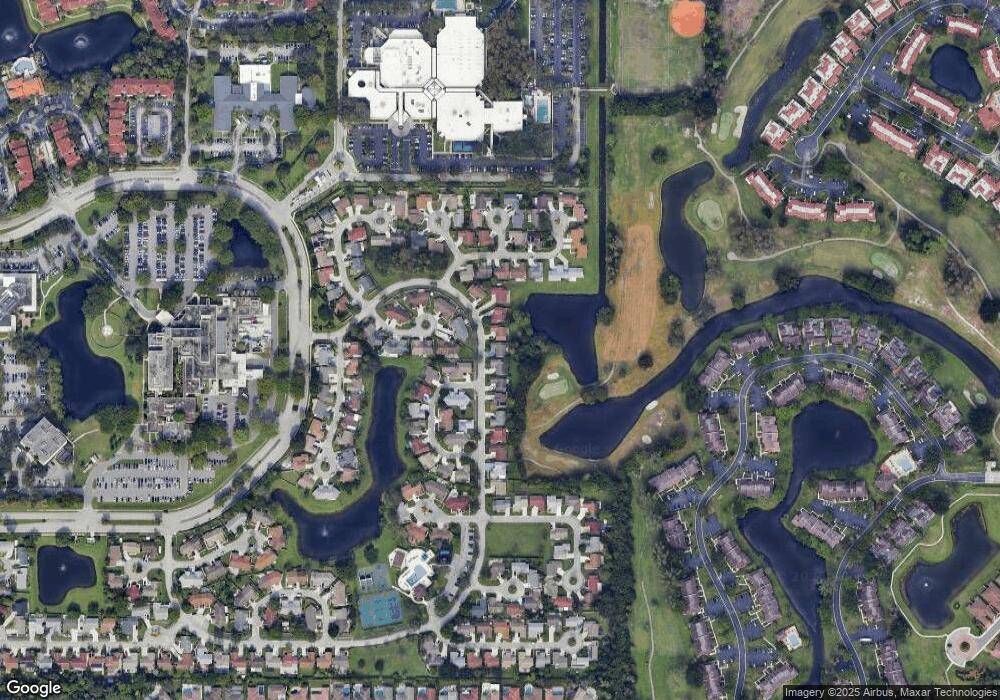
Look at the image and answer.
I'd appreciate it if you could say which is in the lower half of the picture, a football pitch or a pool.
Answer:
pool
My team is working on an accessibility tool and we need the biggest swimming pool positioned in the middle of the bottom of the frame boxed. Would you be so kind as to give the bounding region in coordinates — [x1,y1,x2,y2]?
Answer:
[389,548,438,590]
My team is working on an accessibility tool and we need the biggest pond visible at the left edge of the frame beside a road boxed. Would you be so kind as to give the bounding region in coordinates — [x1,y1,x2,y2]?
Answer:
[38,545,97,605]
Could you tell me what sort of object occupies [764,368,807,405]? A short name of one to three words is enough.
building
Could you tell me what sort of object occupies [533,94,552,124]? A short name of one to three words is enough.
swimming pool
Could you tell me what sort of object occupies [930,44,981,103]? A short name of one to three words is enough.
pond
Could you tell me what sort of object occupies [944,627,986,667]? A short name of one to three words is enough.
roundabout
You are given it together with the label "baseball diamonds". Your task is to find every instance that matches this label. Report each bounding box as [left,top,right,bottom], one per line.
[668,0,704,89]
